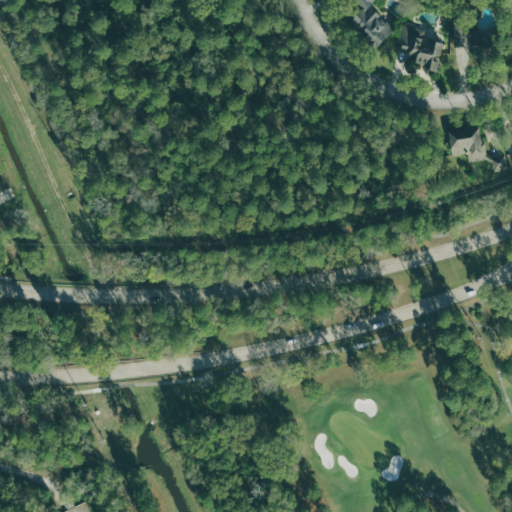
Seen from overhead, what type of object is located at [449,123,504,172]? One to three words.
house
